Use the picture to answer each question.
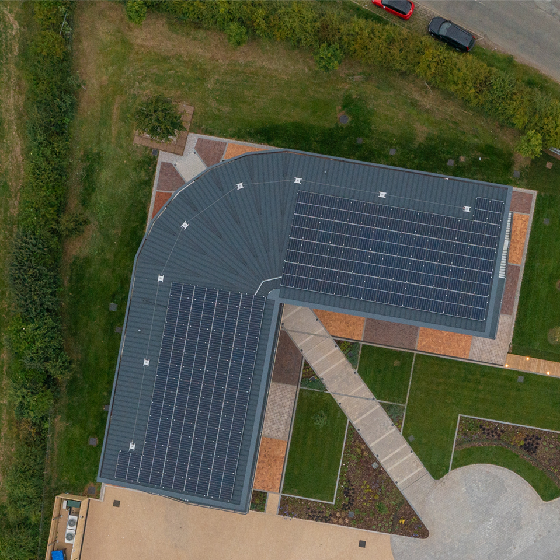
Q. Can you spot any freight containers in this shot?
No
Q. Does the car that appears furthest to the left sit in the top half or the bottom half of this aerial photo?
top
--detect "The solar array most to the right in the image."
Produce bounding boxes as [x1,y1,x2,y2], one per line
[281,190,503,319]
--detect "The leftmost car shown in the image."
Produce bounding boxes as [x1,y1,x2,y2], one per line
[371,0,419,25]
